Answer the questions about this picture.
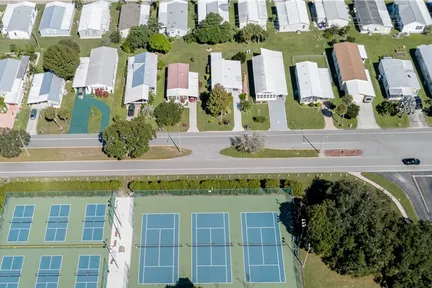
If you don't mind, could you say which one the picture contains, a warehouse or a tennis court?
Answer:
tennis court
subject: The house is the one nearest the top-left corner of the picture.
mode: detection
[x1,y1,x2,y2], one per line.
[1,2,36,37]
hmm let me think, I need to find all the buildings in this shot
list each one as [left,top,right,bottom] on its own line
[275,0,309,30]
[238,0,267,28]
[392,0,432,30]
[73,46,116,92]
[353,0,392,31]
[211,52,241,95]
[0,56,31,109]
[28,74,66,108]
[166,62,198,101]
[314,0,349,26]
[118,4,149,35]
[124,54,157,107]
[1,2,36,37]
[251,49,287,99]
[198,0,229,28]
[379,60,420,102]
[39,2,75,35]
[416,46,432,89]
[295,61,334,102]
[78,2,111,36]
[333,43,373,101]
[158,1,188,36]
